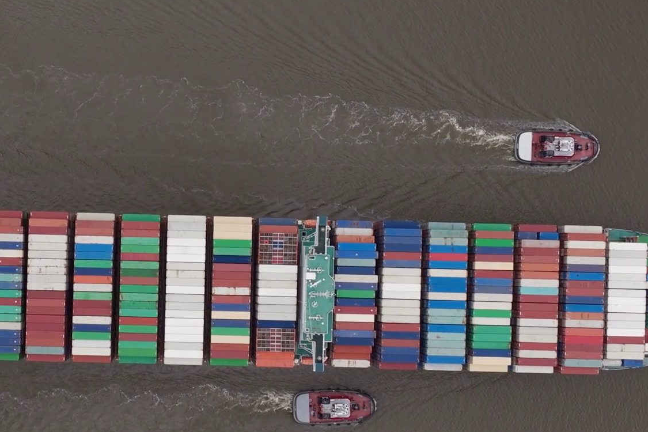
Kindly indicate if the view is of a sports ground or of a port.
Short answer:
port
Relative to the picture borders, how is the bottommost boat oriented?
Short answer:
horizontally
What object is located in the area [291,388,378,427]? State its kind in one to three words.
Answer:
boat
